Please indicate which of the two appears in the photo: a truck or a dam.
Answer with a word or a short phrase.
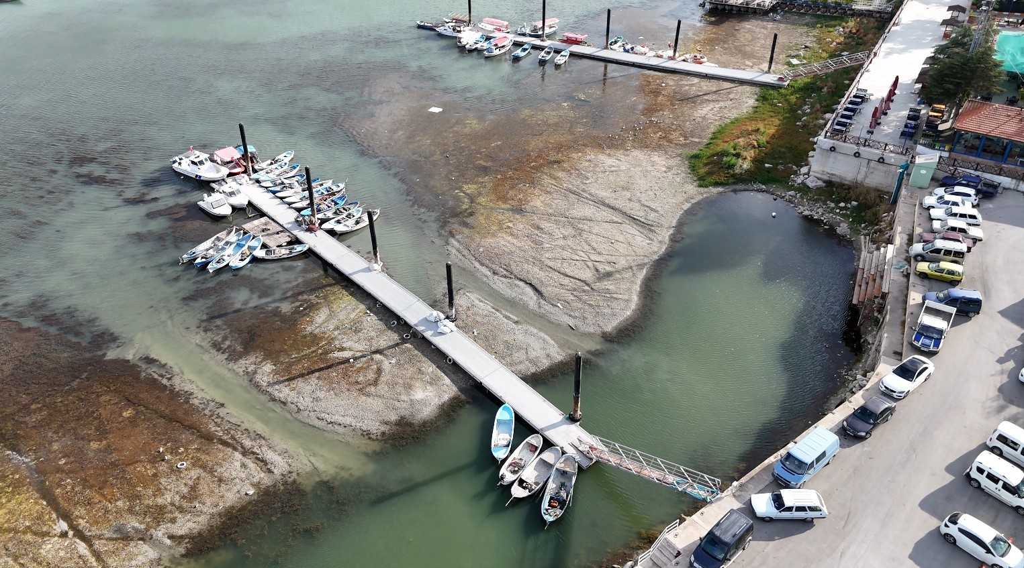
truck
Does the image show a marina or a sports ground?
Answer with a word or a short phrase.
marina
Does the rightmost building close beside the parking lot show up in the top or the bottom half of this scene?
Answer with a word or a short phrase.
top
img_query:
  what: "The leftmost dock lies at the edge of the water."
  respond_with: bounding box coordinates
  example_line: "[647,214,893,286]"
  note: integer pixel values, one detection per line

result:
[222,171,611,470]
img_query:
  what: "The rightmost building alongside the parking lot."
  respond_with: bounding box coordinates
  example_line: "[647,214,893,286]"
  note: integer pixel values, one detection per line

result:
[952,103,1024,166]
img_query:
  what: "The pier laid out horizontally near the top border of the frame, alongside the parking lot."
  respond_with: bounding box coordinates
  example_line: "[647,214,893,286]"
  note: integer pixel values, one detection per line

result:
[466,28,787,85]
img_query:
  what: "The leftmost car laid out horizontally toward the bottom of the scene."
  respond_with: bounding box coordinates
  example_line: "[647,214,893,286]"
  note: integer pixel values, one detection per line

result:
[750,488,831,524]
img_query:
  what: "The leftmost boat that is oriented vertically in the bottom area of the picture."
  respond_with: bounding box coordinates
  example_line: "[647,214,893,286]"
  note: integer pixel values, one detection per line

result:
[487,402,519,470]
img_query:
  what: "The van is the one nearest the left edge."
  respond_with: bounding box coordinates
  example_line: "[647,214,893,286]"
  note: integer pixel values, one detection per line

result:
[691,512,756,568]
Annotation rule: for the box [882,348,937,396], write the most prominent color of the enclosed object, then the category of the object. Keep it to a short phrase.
white car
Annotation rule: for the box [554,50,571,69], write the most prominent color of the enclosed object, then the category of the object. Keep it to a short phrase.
white boat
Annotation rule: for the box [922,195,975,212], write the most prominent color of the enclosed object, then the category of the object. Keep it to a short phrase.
white car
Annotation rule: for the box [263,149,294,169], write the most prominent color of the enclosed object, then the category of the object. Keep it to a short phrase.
white boat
